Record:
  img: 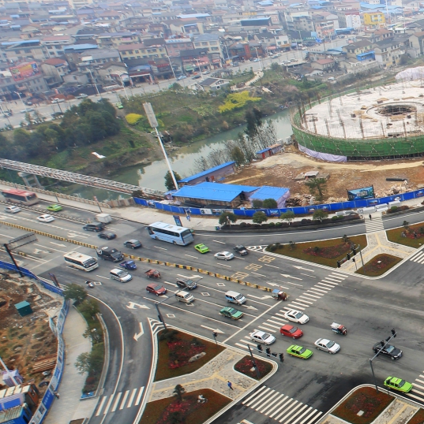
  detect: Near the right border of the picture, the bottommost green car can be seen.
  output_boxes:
[381,377,414,395]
